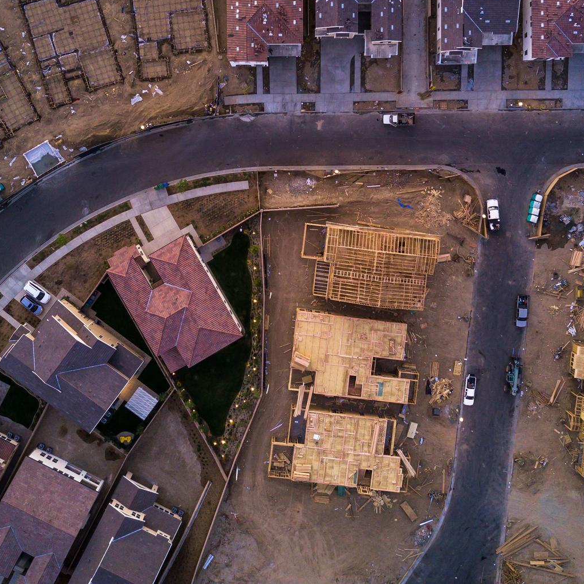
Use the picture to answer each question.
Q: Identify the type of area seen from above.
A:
residential area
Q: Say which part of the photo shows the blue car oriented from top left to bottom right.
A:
left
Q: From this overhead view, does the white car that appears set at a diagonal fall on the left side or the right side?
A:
left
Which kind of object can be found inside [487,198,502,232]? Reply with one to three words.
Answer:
vehicle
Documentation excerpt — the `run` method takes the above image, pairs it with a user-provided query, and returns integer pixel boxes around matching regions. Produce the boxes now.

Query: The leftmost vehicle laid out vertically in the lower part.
[463,373,479,408]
